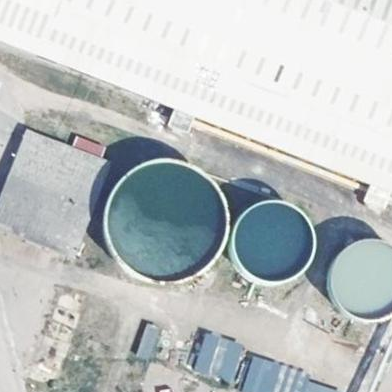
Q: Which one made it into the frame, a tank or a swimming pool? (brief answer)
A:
tank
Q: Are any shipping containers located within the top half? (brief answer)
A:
No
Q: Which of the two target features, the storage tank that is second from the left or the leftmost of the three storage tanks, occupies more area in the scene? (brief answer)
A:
the leftmost of the three storage tanks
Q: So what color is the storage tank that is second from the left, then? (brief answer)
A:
blue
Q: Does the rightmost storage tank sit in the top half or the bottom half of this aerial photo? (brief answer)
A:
bottom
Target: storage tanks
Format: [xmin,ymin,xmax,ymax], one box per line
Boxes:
[323,238,392,322]
[101,158,230,286]
[228,200,316,285]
